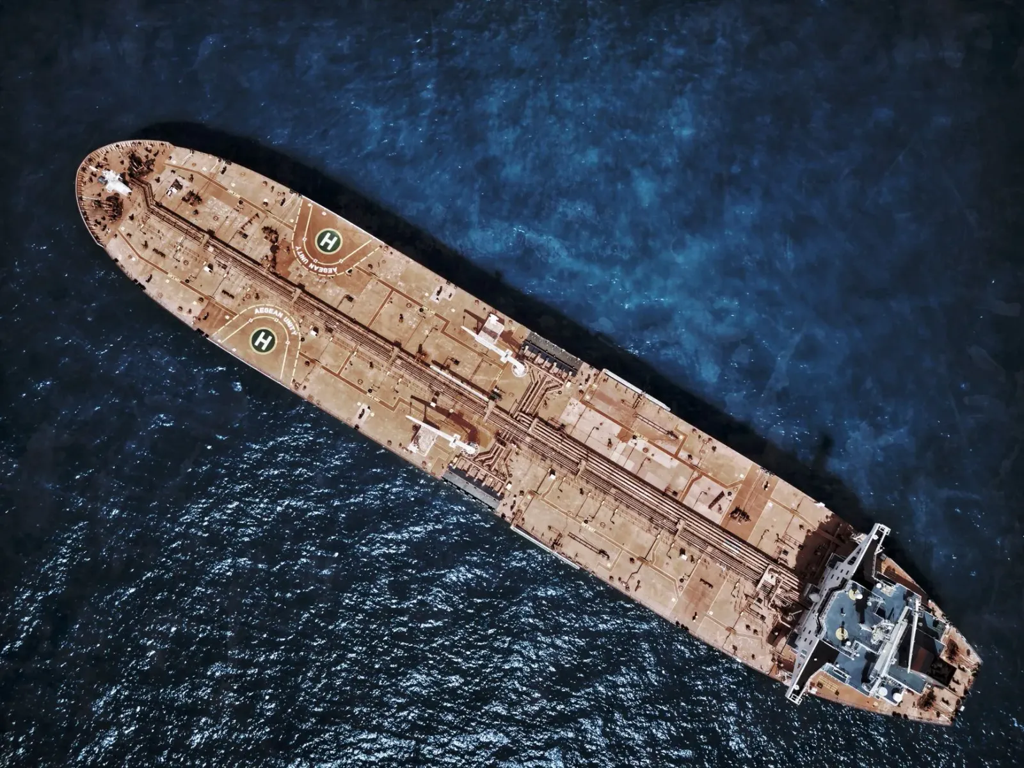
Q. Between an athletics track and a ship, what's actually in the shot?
ship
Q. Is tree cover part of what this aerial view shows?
No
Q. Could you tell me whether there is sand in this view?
No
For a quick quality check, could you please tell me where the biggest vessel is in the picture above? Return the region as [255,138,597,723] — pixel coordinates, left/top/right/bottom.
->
[76,140,984,725]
